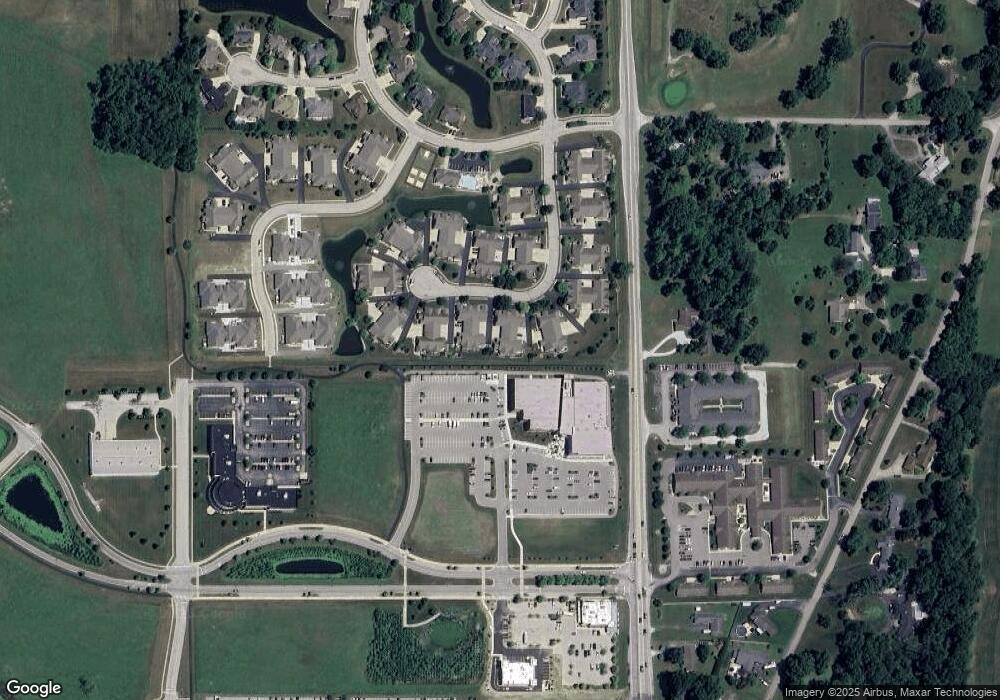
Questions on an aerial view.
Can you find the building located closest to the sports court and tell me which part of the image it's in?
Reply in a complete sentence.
You can find the building located closest to the sports court in the top area of the picture.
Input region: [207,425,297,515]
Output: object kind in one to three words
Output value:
building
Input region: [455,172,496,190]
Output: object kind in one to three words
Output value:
swimming pool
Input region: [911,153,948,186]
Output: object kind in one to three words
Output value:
house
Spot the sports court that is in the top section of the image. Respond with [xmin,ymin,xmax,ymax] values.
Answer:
[404,146,438,190]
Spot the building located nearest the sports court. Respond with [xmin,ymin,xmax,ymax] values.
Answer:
[433,167,461,187]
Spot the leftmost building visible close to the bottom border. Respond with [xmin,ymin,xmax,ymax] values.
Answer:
[502,659,538,686]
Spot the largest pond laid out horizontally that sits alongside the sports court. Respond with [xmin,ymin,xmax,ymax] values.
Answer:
[396,194,494,226]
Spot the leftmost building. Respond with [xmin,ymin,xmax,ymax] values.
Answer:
[91,432,160,475]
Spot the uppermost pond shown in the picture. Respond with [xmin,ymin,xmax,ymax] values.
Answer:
[194,0,346,62]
